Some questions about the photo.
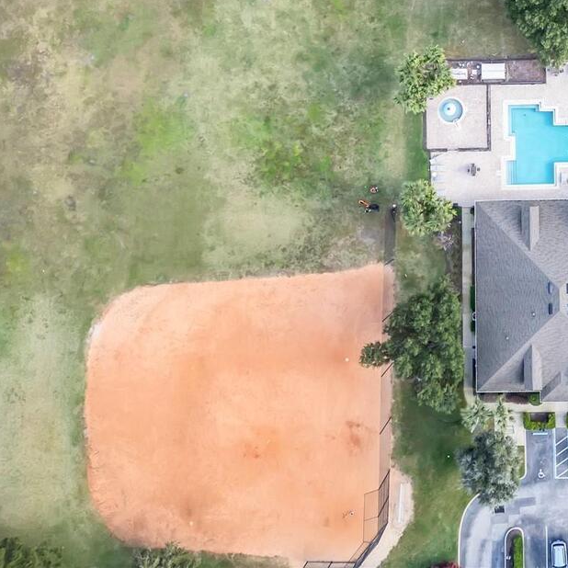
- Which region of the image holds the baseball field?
bottom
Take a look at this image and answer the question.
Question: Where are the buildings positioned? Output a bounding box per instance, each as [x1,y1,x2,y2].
[474,199,568,402]
[481,62,506,79]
